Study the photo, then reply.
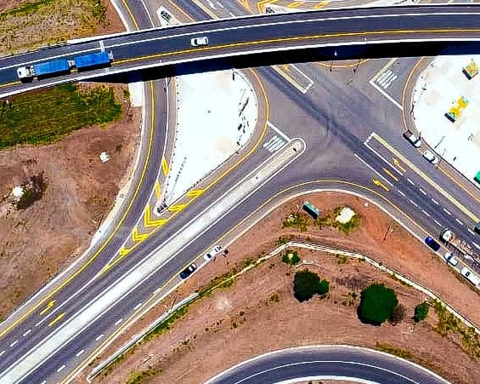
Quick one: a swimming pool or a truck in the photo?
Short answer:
truck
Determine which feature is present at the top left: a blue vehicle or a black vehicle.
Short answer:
blue vehicle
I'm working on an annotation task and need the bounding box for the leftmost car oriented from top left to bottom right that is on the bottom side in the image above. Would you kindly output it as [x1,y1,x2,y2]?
[423,235,440,251]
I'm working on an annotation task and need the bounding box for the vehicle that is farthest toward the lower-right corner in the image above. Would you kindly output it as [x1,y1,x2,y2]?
[460,266,480,285]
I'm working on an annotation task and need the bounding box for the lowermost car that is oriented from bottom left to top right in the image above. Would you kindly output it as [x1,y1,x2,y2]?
[179,262,198,278]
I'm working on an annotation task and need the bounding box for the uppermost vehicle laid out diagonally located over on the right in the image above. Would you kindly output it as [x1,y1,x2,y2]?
[400,129,421,147]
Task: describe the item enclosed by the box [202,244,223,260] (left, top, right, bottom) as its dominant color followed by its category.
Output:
white vehicle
